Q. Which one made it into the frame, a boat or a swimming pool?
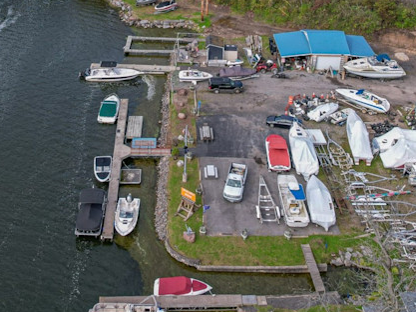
boat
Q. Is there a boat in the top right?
Yes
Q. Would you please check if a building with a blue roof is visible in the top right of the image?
Yes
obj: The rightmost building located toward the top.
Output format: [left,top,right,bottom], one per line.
[272,30,376,72]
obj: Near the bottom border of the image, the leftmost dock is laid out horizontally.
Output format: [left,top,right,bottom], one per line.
[98,294,244,311]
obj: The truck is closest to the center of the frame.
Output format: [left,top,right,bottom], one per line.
[221,159,246,202]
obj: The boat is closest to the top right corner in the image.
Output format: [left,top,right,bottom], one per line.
[344,57,406,84]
